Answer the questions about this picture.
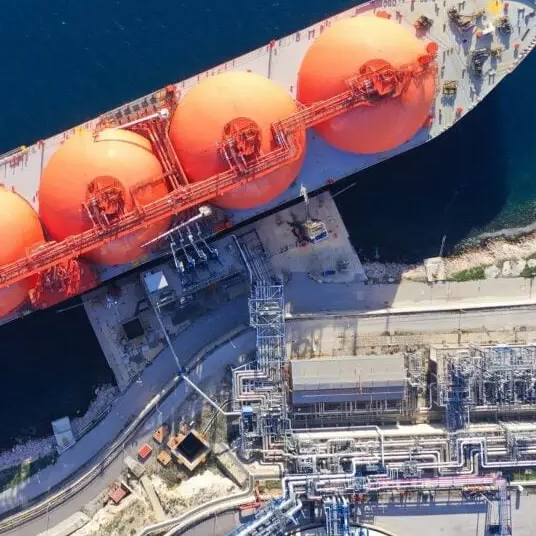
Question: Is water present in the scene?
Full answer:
Yes, there is water in the image.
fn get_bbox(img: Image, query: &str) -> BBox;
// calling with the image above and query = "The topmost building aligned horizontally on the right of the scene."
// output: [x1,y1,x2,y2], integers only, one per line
[291,355,406,404]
